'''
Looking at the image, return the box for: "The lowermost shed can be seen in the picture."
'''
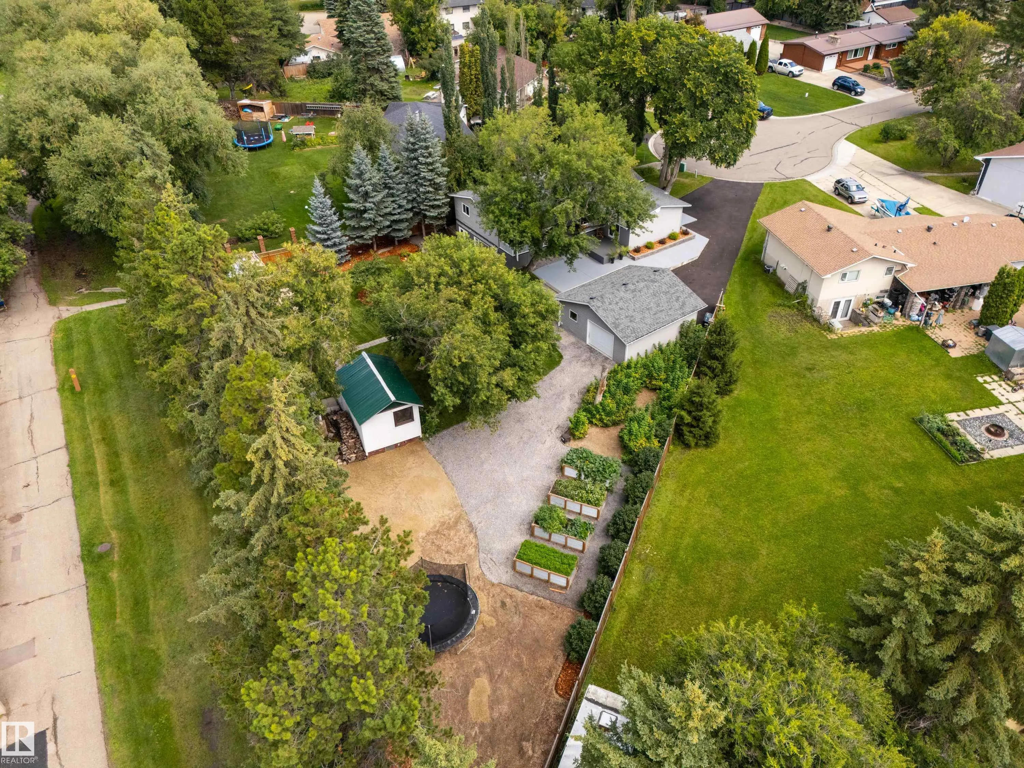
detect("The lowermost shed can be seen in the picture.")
[332,355,424,452]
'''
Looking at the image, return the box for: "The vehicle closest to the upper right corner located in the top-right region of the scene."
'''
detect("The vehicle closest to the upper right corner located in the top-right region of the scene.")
[831,74,869,95]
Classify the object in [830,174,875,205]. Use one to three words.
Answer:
car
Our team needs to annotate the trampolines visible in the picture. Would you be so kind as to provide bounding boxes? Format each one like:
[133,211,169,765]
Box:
[228,115,276,152]
[391,559,480,665]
